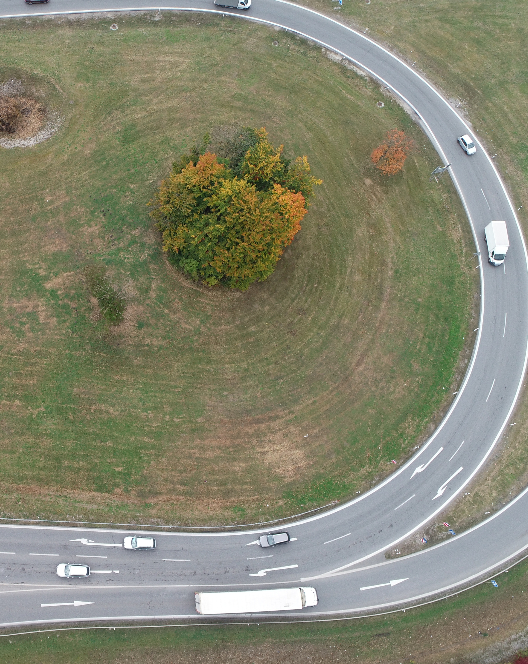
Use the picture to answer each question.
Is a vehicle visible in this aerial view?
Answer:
Yes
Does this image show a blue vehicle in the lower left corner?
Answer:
No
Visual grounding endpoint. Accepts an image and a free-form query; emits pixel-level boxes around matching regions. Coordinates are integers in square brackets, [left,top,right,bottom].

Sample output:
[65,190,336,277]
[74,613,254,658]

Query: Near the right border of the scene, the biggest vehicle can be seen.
[484,221,509,264]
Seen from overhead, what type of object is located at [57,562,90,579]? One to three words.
car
